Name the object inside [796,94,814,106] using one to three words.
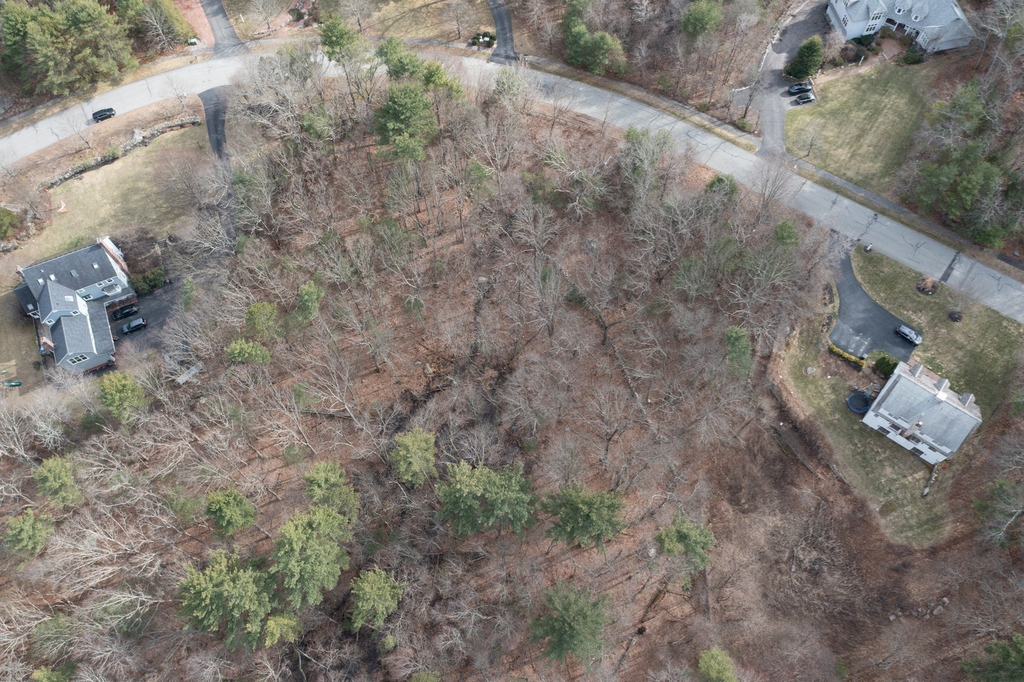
vehicle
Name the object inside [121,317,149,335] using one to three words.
car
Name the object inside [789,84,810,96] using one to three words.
vehicle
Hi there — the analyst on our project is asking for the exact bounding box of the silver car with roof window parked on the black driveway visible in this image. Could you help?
[894,324,922,346]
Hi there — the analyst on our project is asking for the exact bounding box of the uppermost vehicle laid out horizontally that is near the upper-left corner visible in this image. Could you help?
[92,109,117,122]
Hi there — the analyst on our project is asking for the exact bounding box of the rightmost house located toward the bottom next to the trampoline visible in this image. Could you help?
[862,364,982,469]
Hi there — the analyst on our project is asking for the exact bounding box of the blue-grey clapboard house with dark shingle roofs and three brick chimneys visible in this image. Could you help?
[12,232,138,376]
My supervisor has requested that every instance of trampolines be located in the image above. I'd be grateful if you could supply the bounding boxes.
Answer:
[845,386,875,413]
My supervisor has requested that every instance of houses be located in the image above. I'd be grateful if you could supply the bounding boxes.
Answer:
[827,0,984,52]
[12,232,138,376]
[862,364,982,469]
